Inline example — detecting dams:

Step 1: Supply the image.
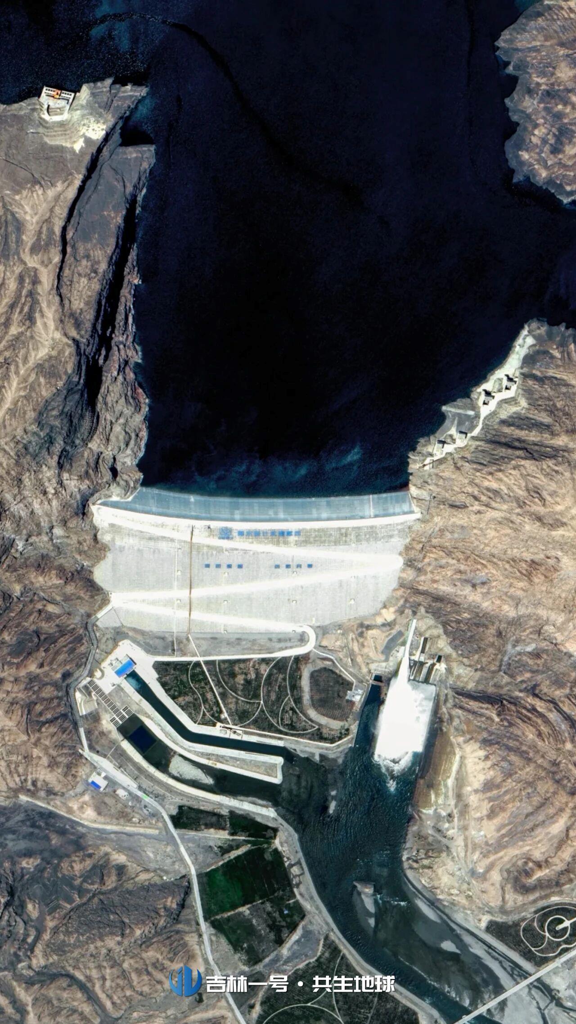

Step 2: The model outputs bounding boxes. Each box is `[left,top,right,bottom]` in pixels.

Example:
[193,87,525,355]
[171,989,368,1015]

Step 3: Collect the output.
[89,487,422,633]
